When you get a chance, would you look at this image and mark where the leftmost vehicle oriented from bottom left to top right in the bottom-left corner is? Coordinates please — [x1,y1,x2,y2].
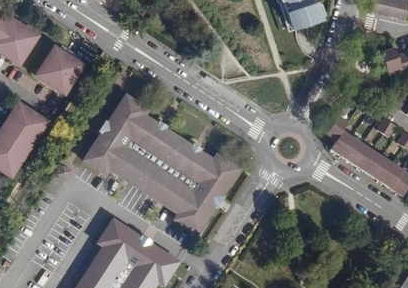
[37,268,50,284]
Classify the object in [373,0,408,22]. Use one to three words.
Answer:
house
